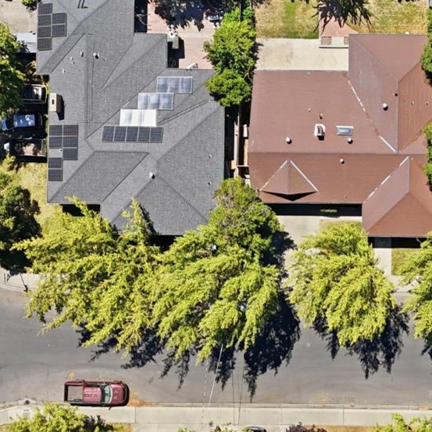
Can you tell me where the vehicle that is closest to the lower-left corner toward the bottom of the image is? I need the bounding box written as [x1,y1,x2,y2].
[62,379,130,408]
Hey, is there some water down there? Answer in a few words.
No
